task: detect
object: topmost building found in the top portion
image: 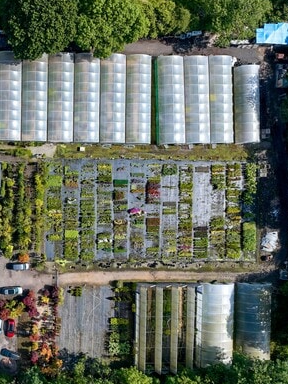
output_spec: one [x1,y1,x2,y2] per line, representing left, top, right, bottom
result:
[257,21,288,44]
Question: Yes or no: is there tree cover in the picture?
Yes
